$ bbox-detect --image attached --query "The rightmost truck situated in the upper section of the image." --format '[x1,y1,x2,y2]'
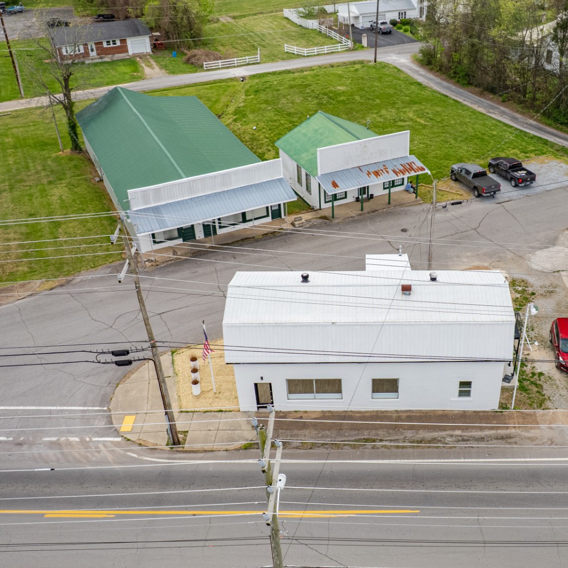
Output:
[484,149,546,187]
